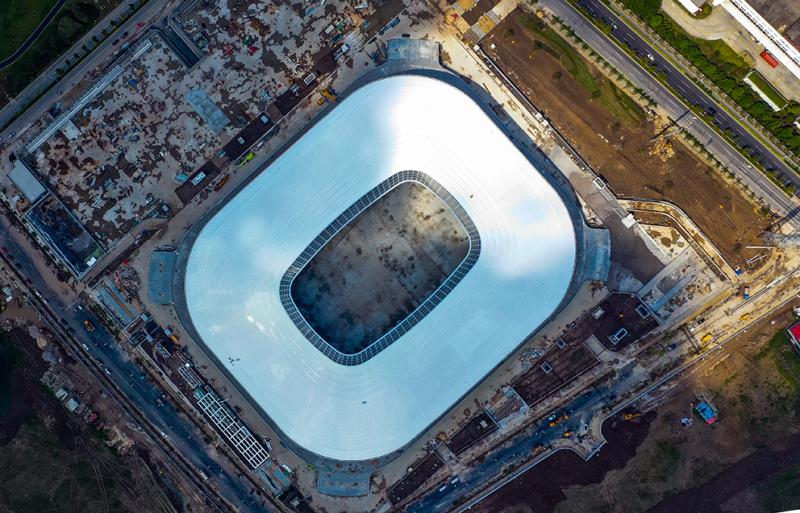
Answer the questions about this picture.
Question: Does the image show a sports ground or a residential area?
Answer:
sports ground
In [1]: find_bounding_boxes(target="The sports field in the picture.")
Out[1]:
[292,182,470,354]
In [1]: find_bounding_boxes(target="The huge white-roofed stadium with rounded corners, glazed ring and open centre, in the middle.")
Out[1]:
[150,40,609,494]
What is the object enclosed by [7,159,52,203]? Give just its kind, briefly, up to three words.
building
